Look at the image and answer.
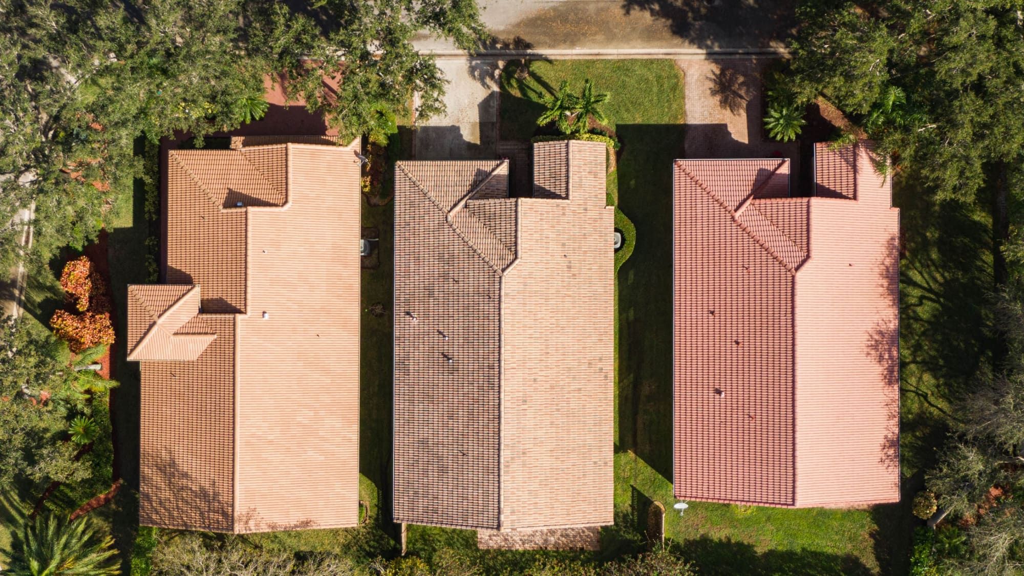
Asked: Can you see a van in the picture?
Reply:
No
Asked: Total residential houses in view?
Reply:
3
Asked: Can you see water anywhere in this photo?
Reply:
No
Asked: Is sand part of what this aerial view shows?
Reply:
No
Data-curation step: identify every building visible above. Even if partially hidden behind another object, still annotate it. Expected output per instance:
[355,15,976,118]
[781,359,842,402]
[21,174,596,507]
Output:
[391,139,615,535]
[124,134,362,538]
[671,138,902,511]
